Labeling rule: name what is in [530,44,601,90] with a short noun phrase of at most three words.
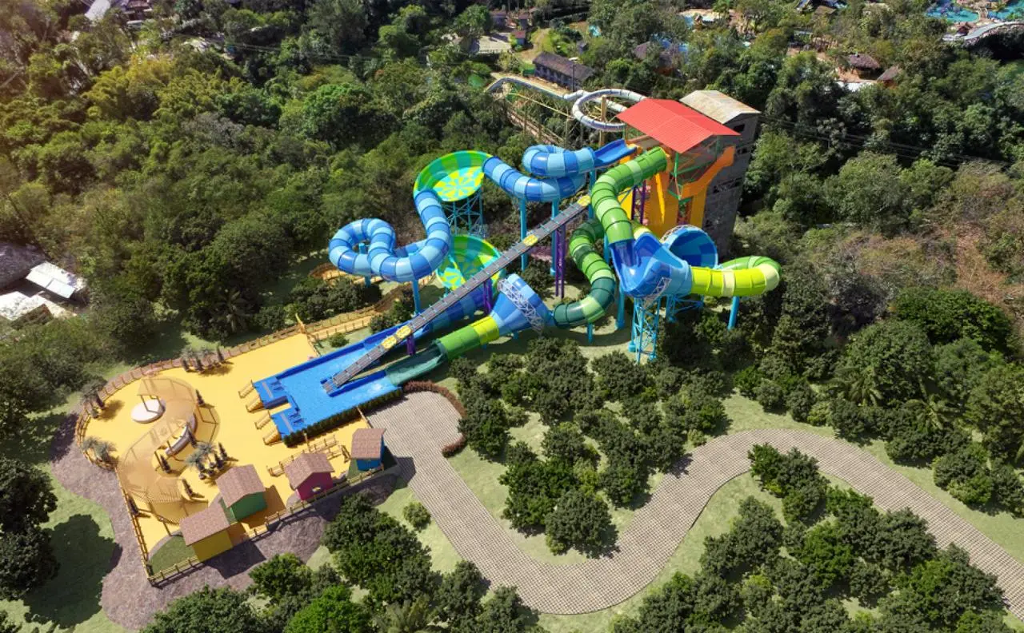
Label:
building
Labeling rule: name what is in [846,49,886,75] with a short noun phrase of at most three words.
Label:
shed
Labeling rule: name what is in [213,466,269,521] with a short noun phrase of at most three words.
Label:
building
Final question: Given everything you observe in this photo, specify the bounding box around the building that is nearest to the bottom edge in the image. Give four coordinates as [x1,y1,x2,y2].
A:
[175,496,233,562]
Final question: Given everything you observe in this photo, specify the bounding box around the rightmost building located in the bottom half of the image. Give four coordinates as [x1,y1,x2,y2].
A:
[345,420,385,468]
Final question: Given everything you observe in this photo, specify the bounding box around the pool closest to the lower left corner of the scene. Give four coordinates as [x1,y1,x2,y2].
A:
[255,322,399,442]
